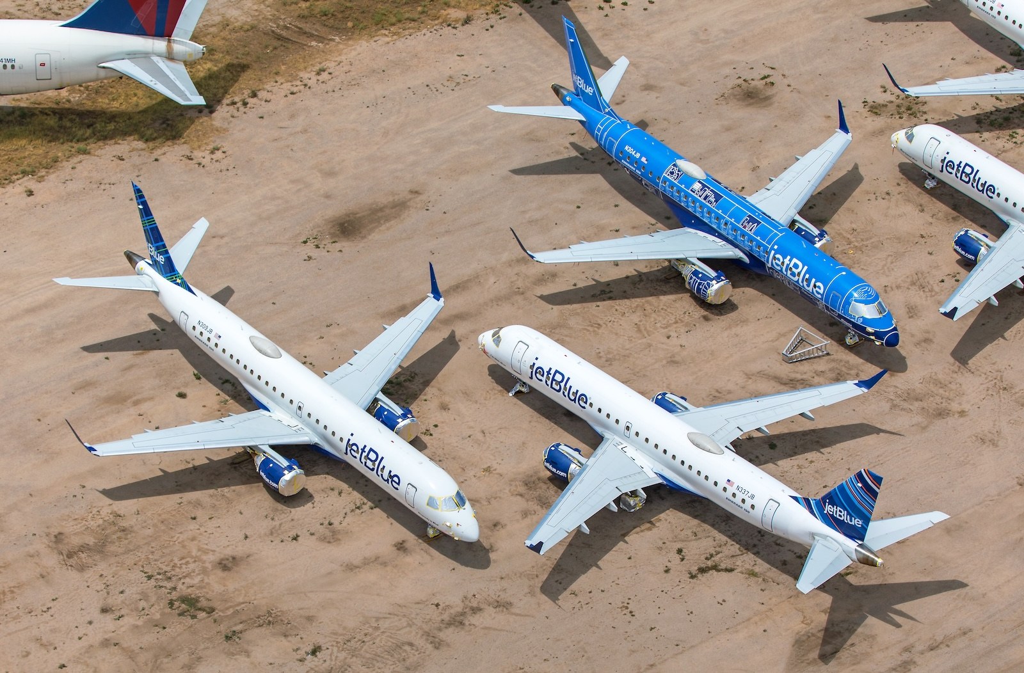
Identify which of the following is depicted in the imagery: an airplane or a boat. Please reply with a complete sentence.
Looking from above, you can make out an airplane.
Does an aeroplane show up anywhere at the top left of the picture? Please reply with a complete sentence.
Yes, an aeroplane can be seen at the top left of the picture.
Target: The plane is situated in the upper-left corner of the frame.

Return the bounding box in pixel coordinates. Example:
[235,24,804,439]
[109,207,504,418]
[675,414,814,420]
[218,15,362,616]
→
[0,0,212,109]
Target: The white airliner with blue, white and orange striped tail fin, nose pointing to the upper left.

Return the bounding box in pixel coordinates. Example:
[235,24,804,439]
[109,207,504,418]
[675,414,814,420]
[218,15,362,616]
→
[478,327,949,593]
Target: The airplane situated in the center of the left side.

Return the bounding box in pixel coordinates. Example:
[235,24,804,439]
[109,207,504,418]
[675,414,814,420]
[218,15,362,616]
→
[52,181,482,545]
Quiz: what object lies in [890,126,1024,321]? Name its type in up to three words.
airplane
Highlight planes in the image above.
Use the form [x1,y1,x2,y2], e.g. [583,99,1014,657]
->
[478,327,949,593]
[890,126,1024,321]
[488,16,901,351]
[0,0,212,109]
[52,181,482,545]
